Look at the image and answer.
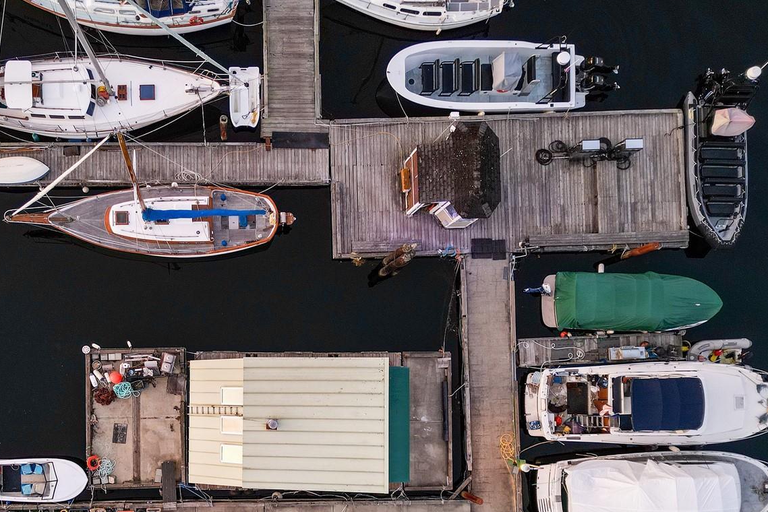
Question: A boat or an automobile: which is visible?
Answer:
boat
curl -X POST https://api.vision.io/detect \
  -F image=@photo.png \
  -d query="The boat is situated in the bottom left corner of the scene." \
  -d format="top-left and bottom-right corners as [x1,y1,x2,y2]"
[0,457,88,501]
